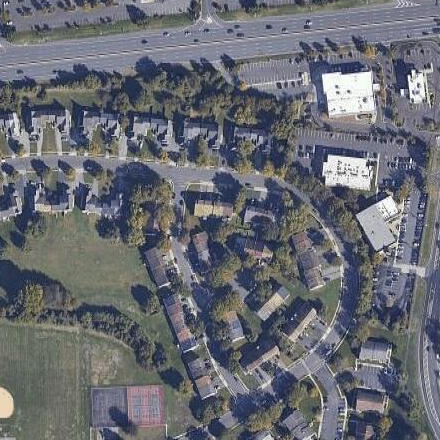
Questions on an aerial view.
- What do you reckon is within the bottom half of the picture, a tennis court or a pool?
tennis court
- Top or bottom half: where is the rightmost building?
top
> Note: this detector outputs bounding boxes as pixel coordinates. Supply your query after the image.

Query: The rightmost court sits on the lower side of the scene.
[127,385,165,426]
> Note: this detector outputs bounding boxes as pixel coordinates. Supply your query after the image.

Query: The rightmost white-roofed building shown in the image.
[400,69,431,108]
